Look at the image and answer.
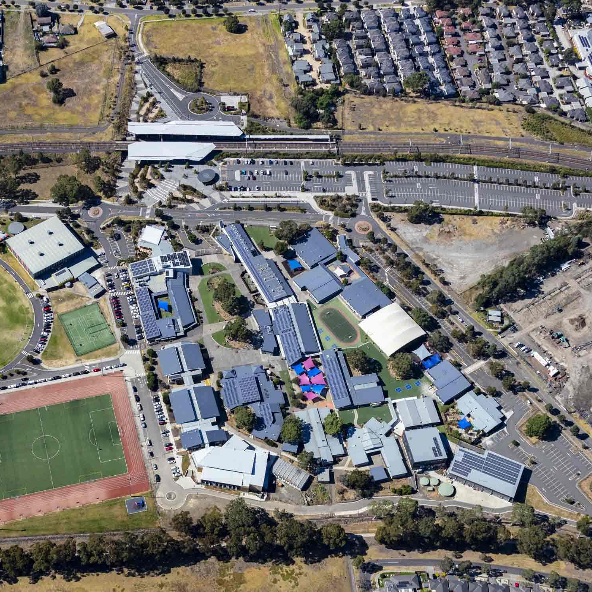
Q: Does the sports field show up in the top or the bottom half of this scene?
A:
bottom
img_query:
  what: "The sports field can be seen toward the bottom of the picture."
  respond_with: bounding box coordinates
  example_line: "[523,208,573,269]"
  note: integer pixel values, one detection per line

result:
[0,394,128,500]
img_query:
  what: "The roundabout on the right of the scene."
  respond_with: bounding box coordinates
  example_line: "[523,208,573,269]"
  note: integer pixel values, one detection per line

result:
[345,212,384,243]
